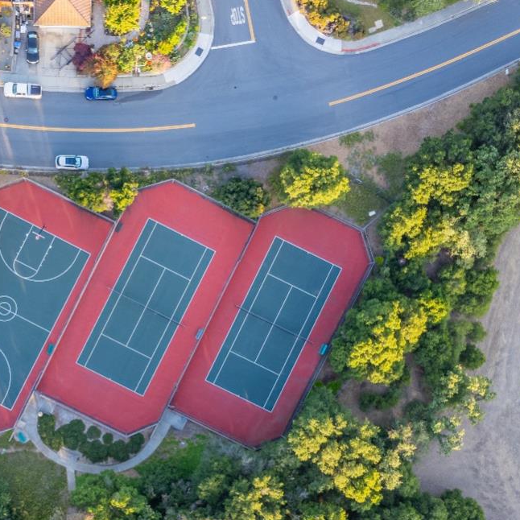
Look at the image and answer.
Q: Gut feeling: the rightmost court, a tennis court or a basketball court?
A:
tennis court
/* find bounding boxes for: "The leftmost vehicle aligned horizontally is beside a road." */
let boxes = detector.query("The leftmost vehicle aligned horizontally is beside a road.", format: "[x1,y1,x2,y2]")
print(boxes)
[3,82,42,99]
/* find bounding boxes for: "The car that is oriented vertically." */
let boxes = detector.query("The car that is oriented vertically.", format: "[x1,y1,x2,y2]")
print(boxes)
[25,31,40,65]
